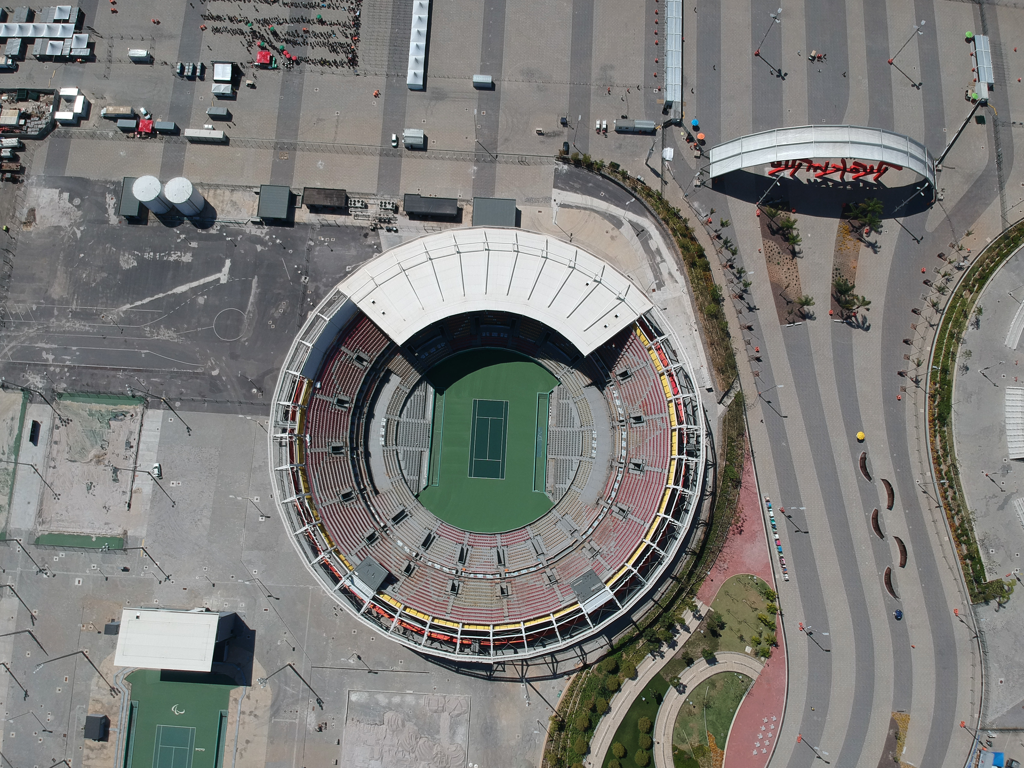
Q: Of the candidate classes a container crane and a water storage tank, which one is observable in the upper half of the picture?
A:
water storage tank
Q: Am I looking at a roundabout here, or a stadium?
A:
stadium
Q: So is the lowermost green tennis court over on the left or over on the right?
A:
left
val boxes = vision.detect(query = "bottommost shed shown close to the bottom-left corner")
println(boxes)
[84,714,109,739]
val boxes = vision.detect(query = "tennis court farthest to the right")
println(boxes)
[399,353,580,533]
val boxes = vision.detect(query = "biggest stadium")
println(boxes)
[268,224,706,662]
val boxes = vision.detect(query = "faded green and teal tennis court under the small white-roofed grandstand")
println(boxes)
[120,668,242,768]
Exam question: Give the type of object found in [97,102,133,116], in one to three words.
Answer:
vehicle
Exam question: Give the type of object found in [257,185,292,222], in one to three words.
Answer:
building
